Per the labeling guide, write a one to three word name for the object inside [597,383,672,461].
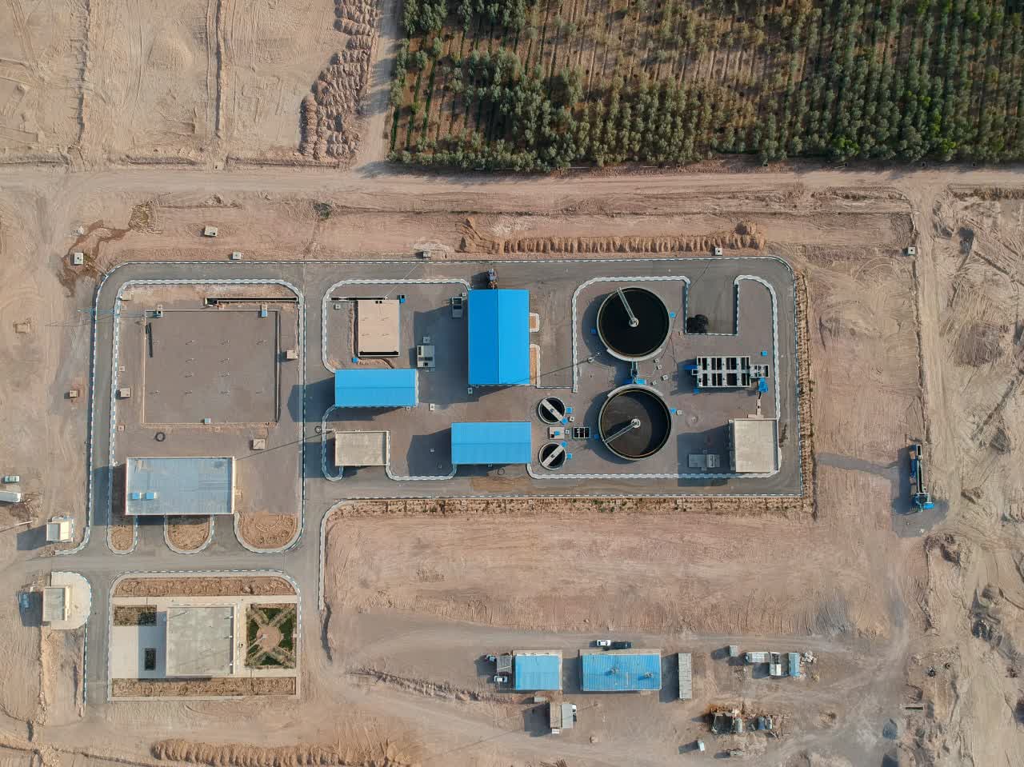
storage tank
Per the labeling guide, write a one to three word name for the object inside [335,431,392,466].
building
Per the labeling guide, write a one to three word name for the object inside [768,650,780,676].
vehicle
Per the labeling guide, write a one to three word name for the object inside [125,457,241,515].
building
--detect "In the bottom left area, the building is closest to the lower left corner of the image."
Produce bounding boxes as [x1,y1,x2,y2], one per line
[42,584,75,621]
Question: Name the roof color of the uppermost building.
blue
